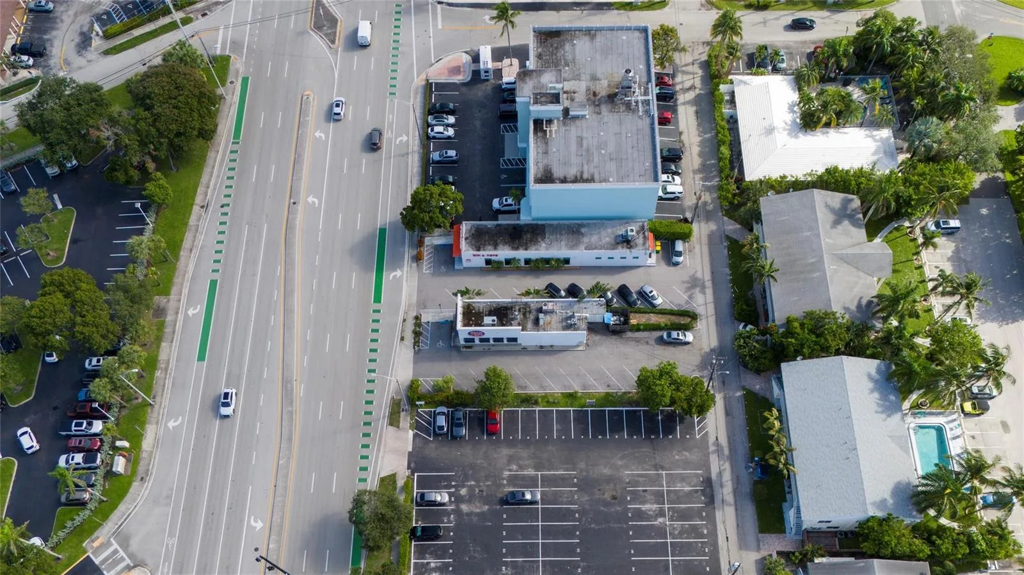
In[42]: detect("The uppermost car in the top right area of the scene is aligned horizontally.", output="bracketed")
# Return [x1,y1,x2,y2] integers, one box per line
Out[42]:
[790,18,816,30]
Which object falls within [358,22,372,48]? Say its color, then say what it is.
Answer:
white vehicle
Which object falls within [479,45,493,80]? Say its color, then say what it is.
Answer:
white vehicle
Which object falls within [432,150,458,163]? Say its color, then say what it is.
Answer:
blue vehicle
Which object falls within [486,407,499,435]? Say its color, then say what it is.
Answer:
red vehicle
